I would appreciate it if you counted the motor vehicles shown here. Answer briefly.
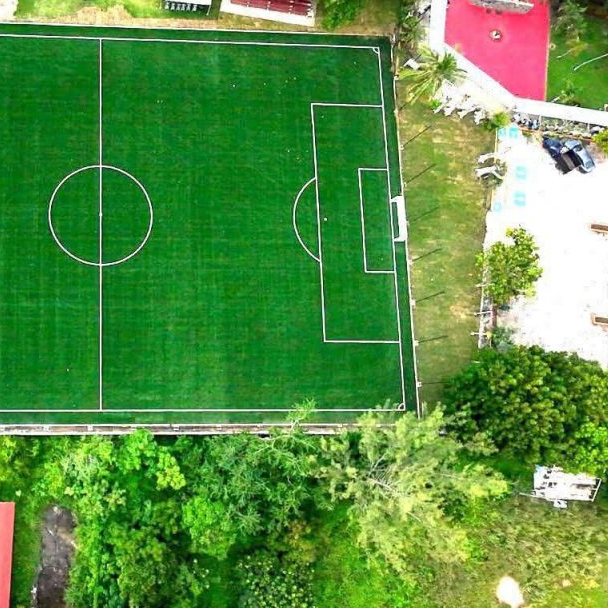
2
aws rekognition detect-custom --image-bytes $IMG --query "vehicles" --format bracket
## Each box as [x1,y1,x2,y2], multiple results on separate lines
[570,138,602,176]
[545,133,583,178]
